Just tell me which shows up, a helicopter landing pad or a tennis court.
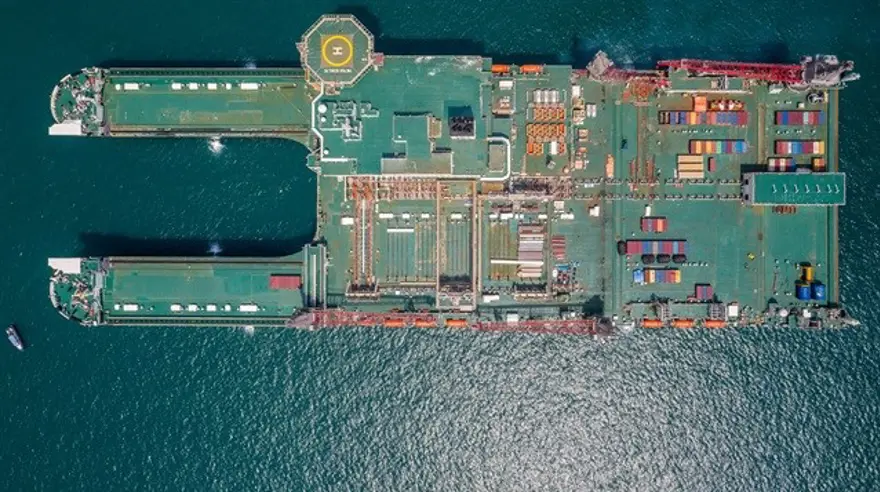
helicopter landing pad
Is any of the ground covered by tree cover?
No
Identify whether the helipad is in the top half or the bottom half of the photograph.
top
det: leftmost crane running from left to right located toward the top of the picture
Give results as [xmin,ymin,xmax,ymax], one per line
[573,50,667,86]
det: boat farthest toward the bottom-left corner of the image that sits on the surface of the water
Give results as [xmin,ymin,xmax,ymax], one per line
[3,325,21,349]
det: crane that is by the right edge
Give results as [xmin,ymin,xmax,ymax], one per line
[656,55,860,96]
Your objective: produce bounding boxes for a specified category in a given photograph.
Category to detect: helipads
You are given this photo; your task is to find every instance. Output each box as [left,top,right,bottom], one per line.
[296,15,384,93]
